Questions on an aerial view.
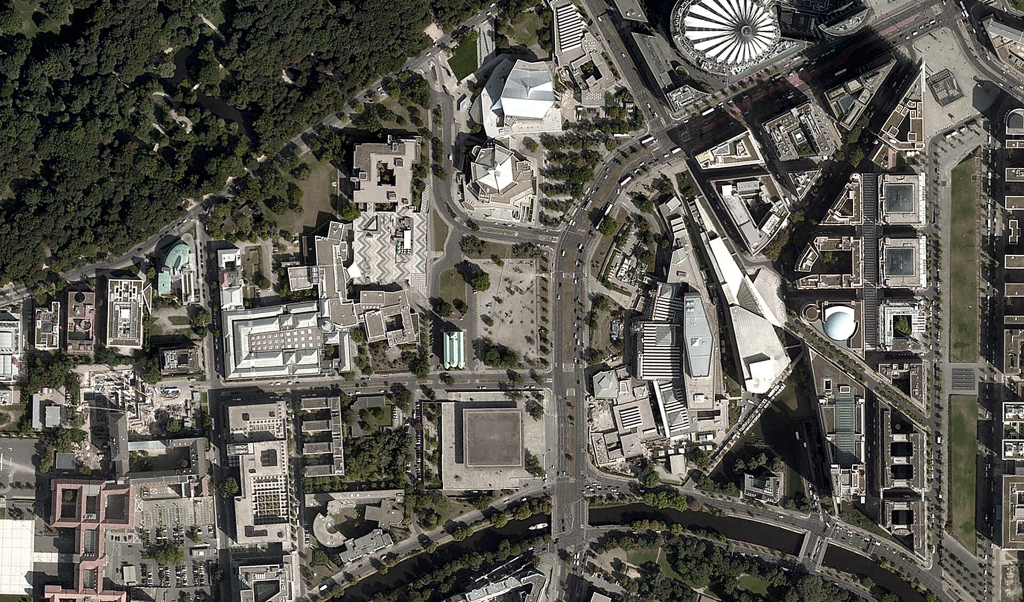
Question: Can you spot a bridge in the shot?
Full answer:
Yes, you can see a bridge in this photo.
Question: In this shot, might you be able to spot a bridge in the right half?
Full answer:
Yes, looking in the right half, one can make out a bridge.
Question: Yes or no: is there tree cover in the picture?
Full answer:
Yes, tree cover can be seen from above here.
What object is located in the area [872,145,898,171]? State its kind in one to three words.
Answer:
house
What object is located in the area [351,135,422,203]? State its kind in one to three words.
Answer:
building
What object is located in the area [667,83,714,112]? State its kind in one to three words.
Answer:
building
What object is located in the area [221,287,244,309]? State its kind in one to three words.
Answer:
house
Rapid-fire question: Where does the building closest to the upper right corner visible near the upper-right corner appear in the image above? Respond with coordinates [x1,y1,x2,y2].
[984,11,1024,74]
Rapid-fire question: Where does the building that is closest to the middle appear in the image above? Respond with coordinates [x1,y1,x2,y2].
[444,331,465,369]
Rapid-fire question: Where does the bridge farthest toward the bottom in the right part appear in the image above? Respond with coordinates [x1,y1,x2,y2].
[798,533,831,573]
